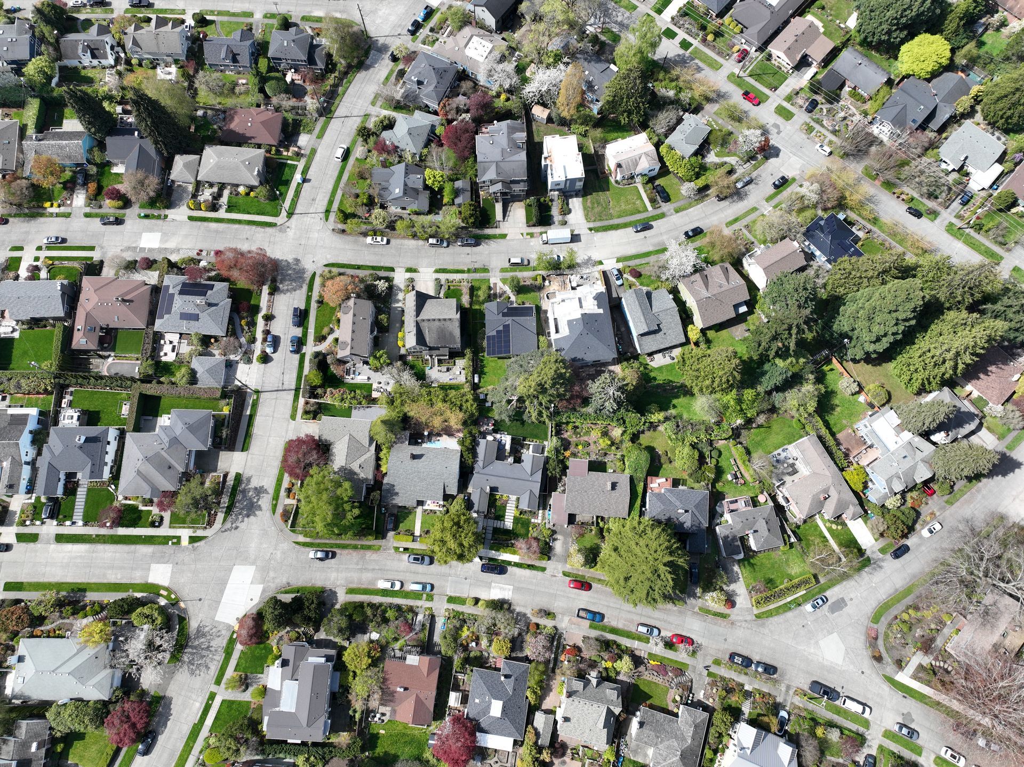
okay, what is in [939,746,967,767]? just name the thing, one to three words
car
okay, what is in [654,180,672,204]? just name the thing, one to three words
vehicle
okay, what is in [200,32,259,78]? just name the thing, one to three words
house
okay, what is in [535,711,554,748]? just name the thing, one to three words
building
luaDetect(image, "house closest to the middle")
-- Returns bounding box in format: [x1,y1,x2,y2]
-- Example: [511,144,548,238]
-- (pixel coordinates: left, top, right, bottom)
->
[485,302,537,358]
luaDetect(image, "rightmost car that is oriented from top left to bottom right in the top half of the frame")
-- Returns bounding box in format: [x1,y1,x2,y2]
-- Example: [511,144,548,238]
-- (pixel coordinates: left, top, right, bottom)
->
[902,204,926,221]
